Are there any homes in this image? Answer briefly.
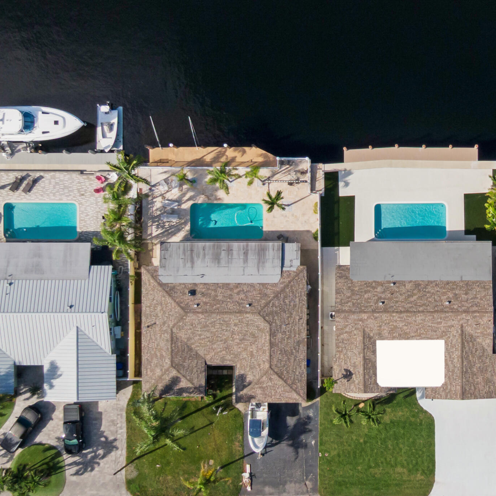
Yes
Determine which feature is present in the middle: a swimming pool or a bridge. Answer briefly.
swimming pool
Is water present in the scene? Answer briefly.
Yes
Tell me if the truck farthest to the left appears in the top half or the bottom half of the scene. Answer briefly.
bottom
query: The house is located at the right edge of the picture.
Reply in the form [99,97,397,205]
[332,241,496,400]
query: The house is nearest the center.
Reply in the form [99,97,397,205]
[141,242,307,404]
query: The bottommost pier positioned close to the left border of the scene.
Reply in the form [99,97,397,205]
[0,149,123,164]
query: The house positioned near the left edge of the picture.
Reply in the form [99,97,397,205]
[0,243,120,402]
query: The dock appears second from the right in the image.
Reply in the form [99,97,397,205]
[145,144,276,166]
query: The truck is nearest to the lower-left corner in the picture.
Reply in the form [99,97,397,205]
[0,402,42,455]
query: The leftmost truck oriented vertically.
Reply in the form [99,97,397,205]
[61,403,85,455]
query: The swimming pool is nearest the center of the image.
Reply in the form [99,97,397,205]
[189,203,264,240]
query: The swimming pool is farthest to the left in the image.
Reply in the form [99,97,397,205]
[0,199,80,242]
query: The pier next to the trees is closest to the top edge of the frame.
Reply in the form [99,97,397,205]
[97,108,123,150]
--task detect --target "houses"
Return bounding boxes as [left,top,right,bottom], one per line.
[332,241,496,400]
[141,242,307,404]
[0,243,120,402]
